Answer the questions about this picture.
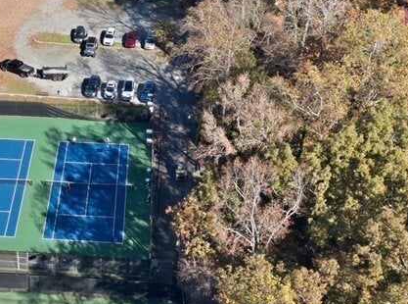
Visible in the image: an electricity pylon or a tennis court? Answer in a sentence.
Looking from above, you can make out a tennis court.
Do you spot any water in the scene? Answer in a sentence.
No, the picture contains no water.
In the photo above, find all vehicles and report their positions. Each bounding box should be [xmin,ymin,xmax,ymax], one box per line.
[85,38,99,56]
[142,83,156,102]
[125,31,138,48]
[104,83,118,99]
[84,77,100,98]
[0,61,32,78]
[121,80,135,100]
[104,29,118,45]
[74,26,87,42]
[144,36,156,49]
